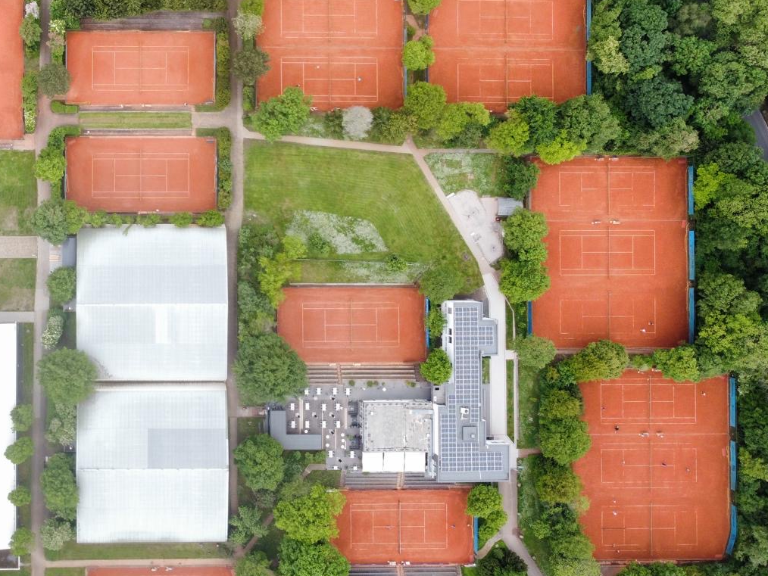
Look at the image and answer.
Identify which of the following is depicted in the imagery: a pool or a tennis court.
tennis court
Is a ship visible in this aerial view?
No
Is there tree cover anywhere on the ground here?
Yes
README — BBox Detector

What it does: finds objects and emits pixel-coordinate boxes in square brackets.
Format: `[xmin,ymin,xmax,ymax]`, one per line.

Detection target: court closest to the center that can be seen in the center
[277,287,426,363]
